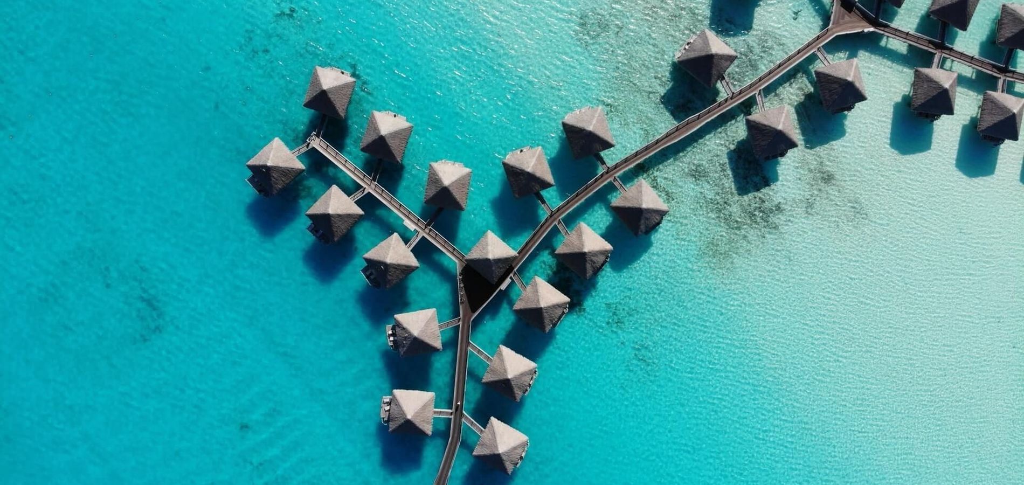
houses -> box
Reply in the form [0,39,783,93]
[481,345,538,402]
[360,109,414,164]
[358,232,420,291]
[677,29,737,88]
[562,105,615,160]
[502,145,556,200]
[378,389,435,435]
[244,137,306,199]
[555,221,614,280]
[472,418,529,475]
[991,0,1024,49]
[512,275,570,333]
[423,159,472,211]
[746,105,799,161]
[908,68,958,121]
[610,178,669,237]
[304,184,364,246]
[386,308,442,357]
[815,58,868,114]
[303,65,356,119]
[926,0,981,30]
[972,90,1024,145]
